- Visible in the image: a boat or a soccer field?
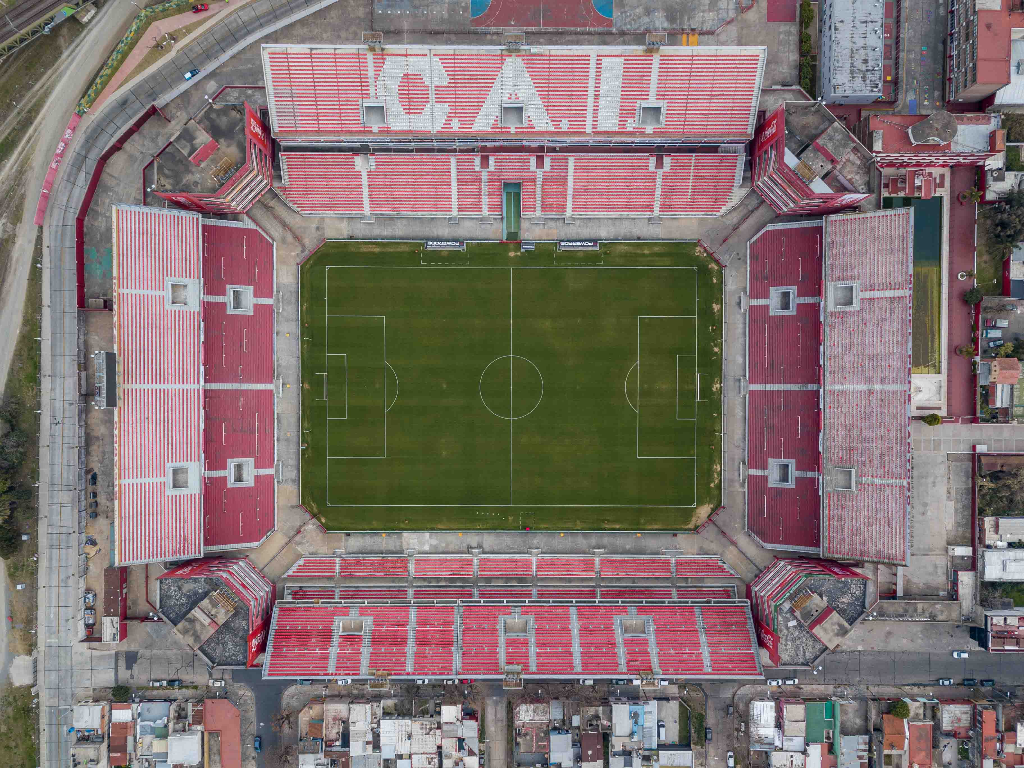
soccer field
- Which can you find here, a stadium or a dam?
stadium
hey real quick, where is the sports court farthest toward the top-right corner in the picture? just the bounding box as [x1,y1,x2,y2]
[767,0,797,22]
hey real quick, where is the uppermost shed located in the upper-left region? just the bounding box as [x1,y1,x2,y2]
[74,5,102,29]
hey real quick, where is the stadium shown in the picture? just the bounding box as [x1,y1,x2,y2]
[111,44,914,680]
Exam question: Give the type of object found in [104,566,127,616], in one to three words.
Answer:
shed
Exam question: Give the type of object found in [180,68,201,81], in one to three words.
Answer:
vehicle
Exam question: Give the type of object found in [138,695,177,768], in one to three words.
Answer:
house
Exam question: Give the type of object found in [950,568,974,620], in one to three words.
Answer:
building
